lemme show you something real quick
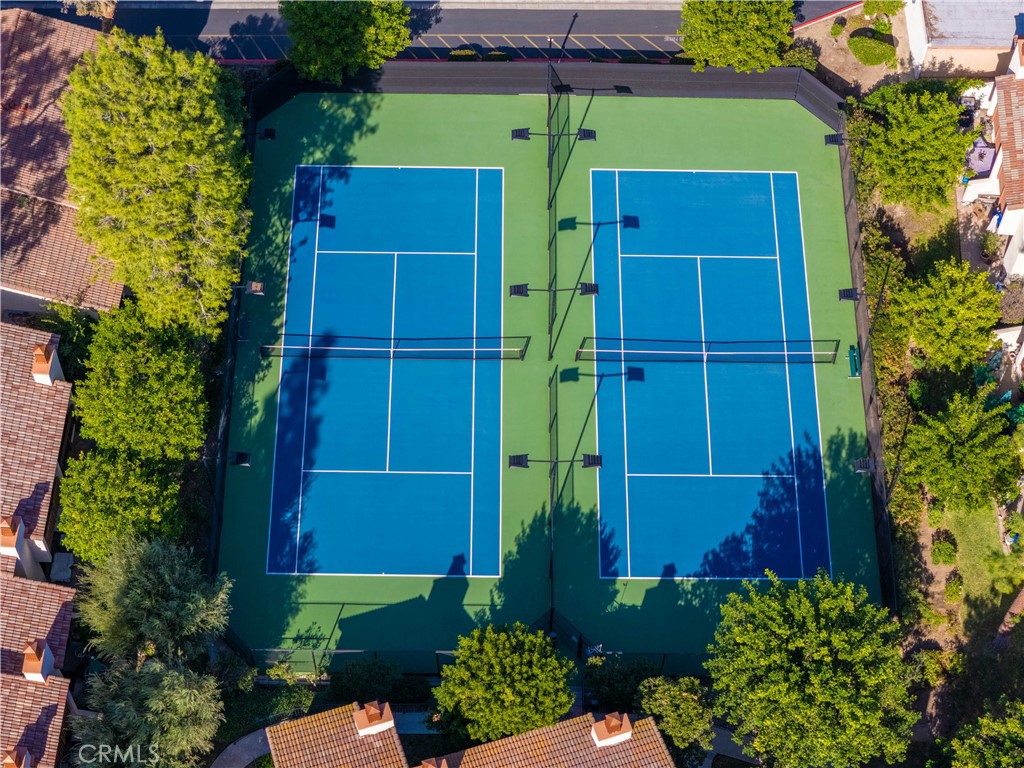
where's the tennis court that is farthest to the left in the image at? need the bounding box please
[217,93,551,673]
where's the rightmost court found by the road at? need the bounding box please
[547,95,884,676]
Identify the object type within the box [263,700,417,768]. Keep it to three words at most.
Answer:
house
